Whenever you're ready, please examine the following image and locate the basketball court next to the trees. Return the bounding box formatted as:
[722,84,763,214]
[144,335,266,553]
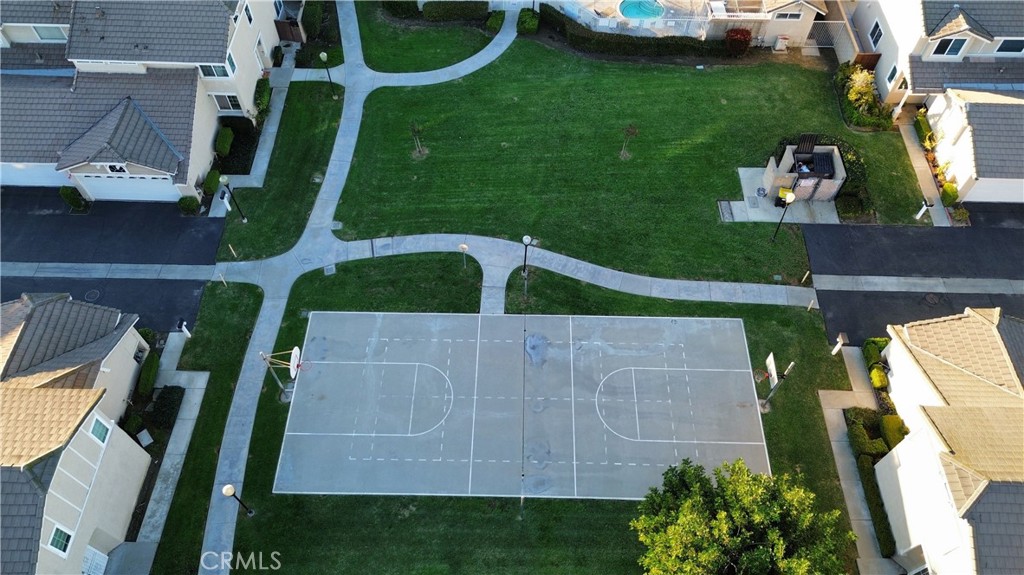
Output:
[272,311,773,503]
